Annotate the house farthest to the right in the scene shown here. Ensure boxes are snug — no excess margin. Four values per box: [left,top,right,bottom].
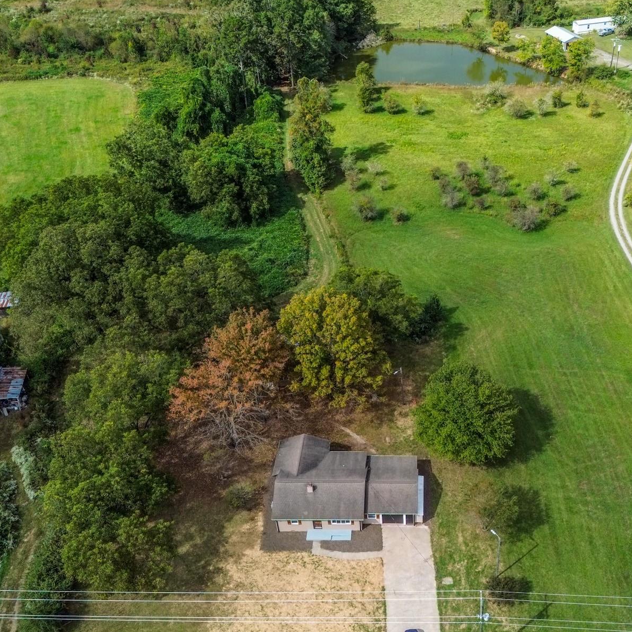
[568,15,623,34]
